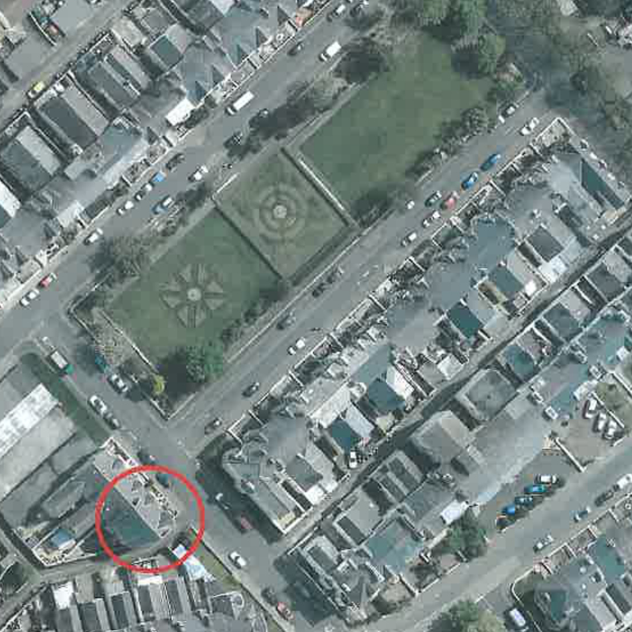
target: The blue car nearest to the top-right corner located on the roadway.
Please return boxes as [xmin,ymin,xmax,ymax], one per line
[482,150,502,169]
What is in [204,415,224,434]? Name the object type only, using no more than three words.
car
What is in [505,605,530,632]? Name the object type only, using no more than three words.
vehicle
